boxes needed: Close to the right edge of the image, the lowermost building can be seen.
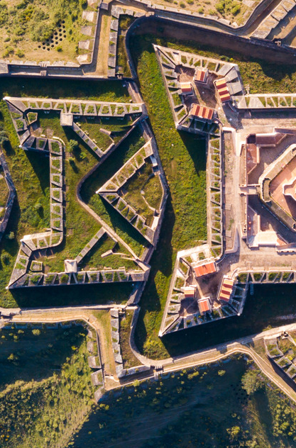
[246,206,295,251]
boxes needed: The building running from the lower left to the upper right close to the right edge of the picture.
[246,128,296,175]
